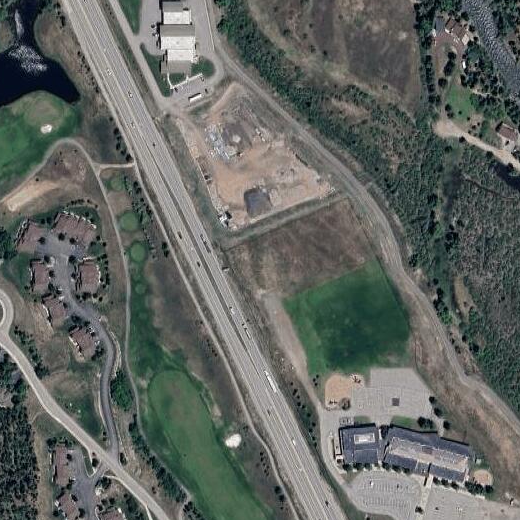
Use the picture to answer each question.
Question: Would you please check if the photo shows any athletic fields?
Yes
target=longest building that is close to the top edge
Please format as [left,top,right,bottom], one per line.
[160,1,195,72]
